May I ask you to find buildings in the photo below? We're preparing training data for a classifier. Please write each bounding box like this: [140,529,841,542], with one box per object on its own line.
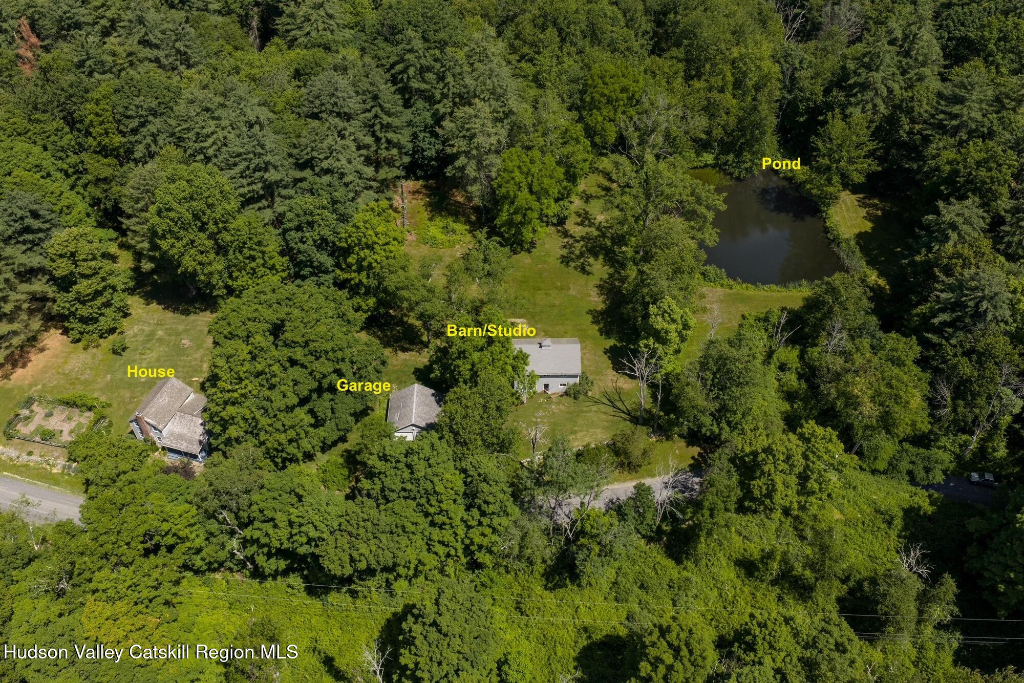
[128,377,226,463]
[513,339,581,393]
[385,383,443,443]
